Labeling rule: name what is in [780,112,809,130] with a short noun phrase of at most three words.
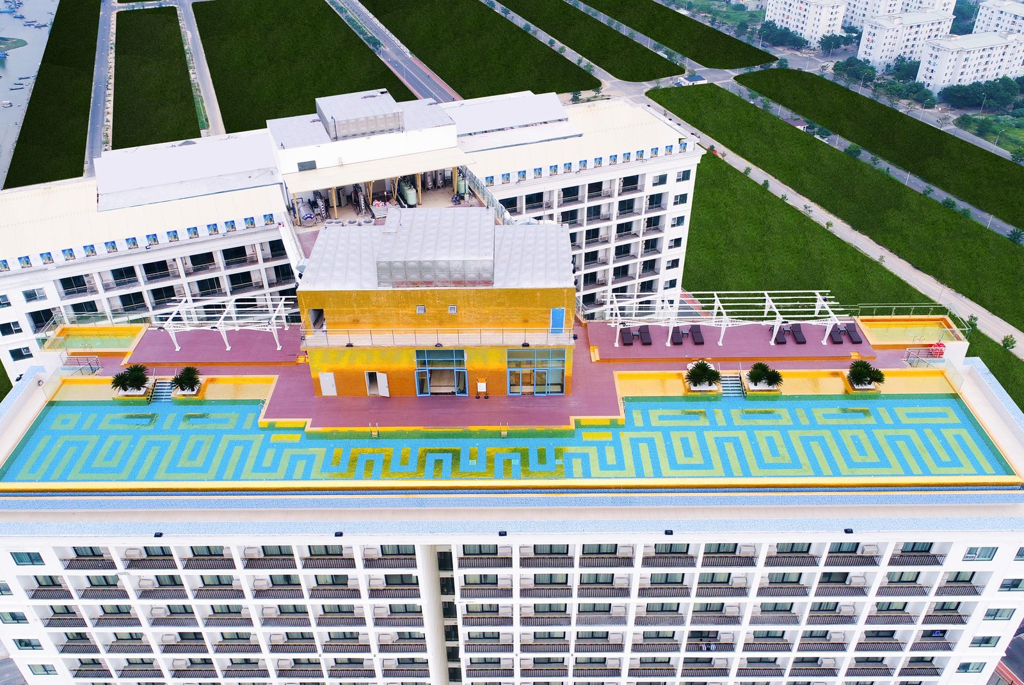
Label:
shed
